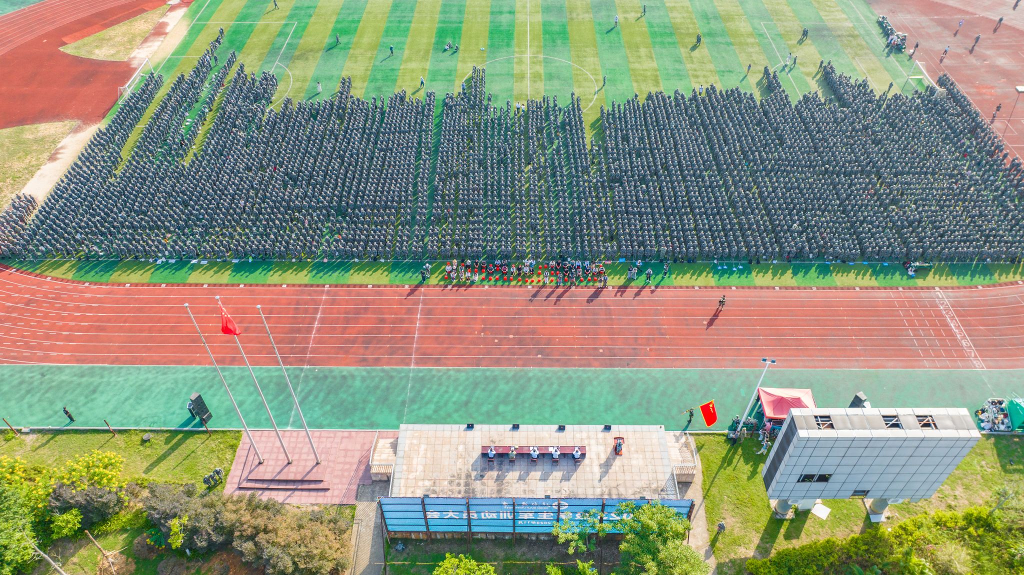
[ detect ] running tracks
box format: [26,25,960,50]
[0,0,1024,370]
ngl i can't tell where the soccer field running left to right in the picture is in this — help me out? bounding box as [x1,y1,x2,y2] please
[0,0,1024,285]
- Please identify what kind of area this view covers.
sports ground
